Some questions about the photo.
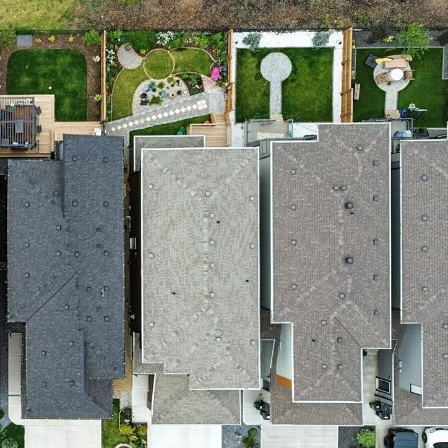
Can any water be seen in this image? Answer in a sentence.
No, there is no water in the image.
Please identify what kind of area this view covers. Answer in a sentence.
This looks like a residential area.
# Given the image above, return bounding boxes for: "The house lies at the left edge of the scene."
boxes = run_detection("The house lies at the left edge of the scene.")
[6,133,127,420]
